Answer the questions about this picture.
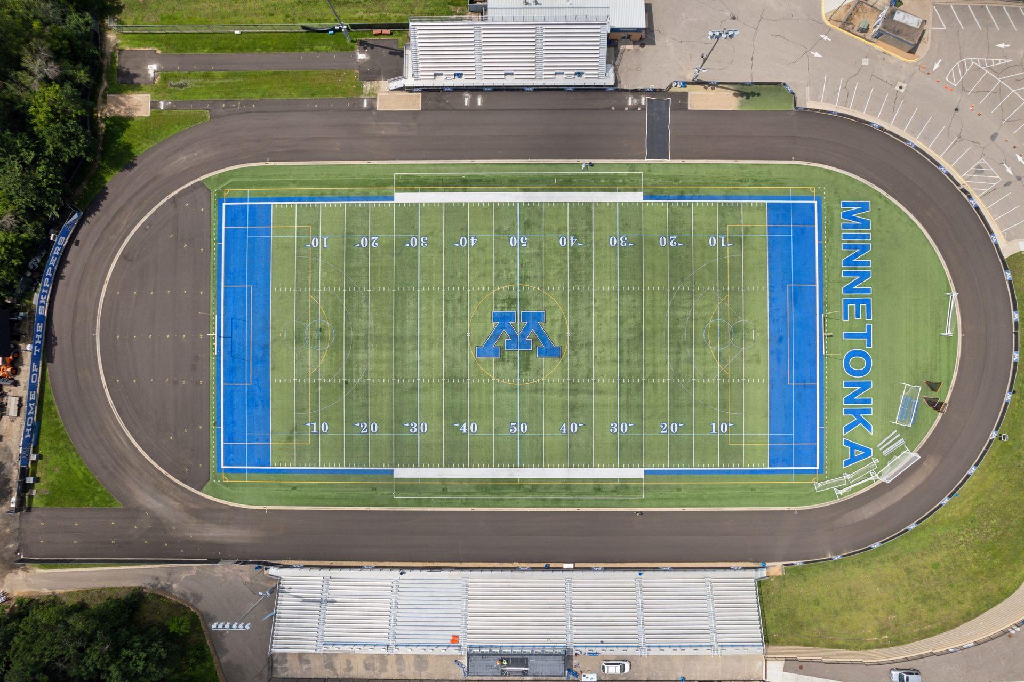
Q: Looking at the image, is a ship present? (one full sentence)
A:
No, there isn't any ship down there.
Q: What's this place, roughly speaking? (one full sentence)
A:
It's a sports ground.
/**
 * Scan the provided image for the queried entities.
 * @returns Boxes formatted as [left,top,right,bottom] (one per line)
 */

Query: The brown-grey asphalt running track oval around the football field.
[19,109,1015,564]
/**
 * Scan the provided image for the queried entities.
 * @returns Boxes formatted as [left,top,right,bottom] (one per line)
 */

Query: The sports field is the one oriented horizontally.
[203,164,958,505]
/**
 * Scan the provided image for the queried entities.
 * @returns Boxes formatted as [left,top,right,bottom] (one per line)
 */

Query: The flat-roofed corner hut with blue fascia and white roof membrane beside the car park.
[872,6,927,48]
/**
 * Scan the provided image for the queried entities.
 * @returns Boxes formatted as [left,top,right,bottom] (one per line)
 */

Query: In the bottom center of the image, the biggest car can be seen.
[601,659,629,675]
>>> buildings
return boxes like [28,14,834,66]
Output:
[488,0,646,38]
[872,6,927,48]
